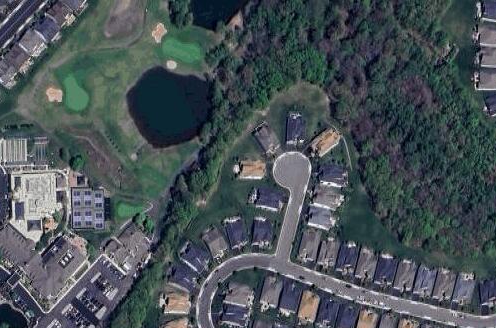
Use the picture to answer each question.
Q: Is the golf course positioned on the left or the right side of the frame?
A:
left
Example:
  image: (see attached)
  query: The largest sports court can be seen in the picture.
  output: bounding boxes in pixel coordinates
[4,138,27,162]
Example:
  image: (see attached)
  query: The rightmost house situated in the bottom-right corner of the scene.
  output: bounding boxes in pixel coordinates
[479,276,495,307]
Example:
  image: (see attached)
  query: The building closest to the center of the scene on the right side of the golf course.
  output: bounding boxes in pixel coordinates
[237,159,266,180]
